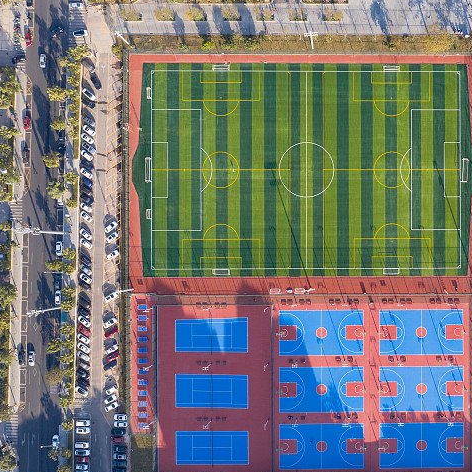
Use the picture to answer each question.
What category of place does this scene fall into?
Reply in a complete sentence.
This image shows a sports ground.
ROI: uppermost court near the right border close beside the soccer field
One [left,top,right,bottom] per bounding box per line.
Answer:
[380,309,464,355]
